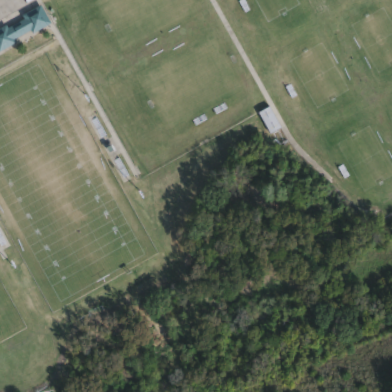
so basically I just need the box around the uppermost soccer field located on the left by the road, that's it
[94,0,209,55]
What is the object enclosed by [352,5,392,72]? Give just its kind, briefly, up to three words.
soccer field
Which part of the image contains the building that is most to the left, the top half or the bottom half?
top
